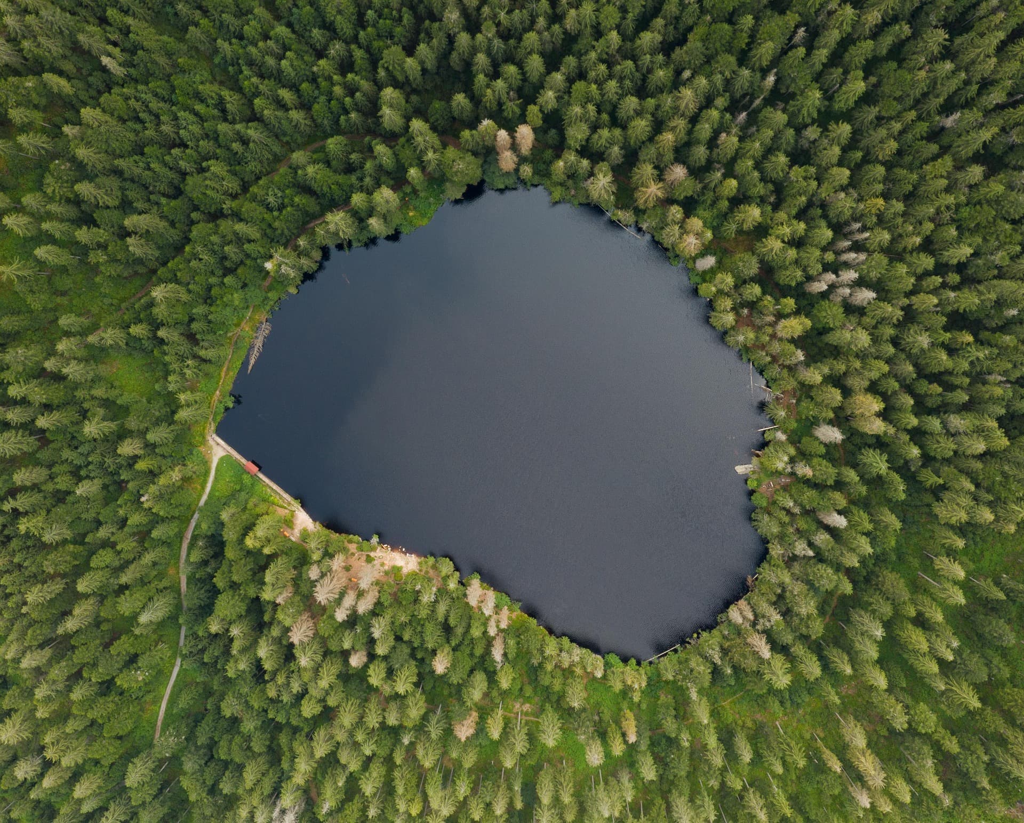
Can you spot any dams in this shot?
Yes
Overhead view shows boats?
No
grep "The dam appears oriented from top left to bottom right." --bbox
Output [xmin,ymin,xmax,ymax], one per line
[212,434,317,524]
